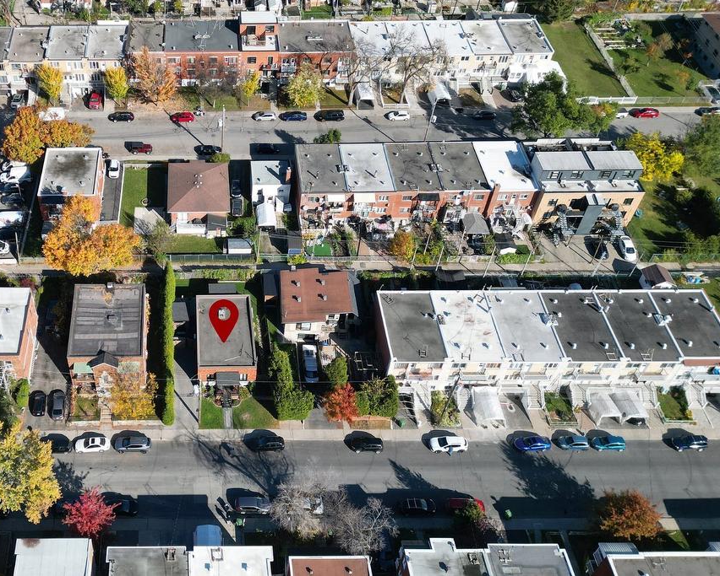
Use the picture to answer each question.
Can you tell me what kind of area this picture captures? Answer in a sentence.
It's a residential area.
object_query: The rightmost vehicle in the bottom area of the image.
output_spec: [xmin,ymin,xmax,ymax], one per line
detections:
[666,433,712,453]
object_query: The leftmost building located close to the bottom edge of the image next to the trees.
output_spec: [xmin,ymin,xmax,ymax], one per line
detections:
[10,539,96,576]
